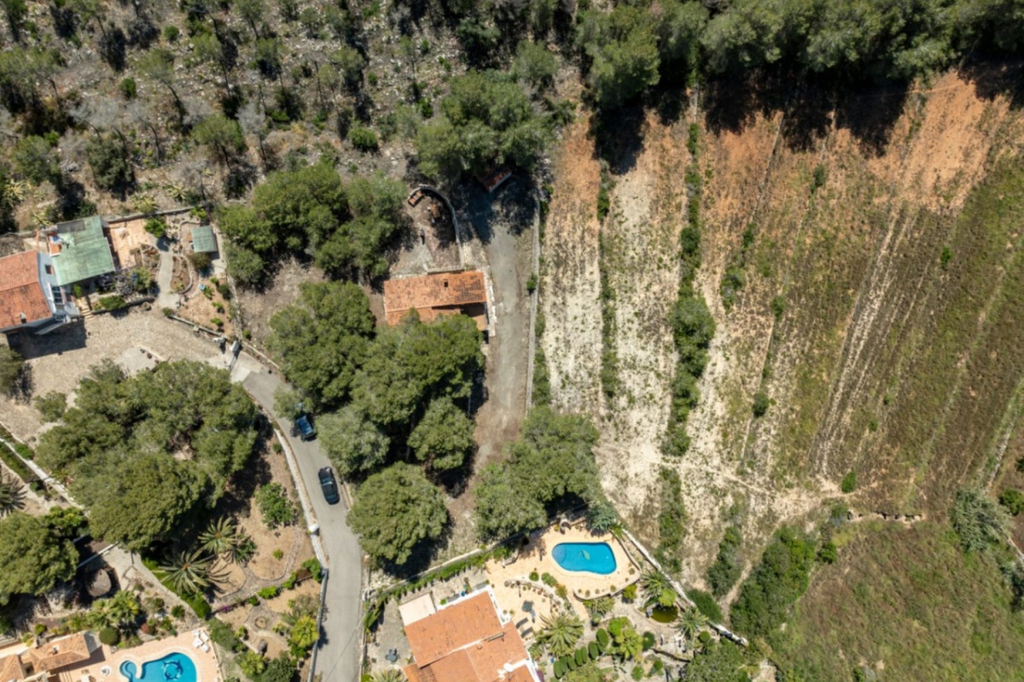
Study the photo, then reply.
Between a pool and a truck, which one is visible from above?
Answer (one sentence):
Of the two, only a pool appears.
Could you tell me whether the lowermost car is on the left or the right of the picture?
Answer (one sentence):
The lowermost car is on the left side of the image.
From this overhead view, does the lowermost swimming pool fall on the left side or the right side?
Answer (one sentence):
The lowermost swimming pool appears in the left half of the scene.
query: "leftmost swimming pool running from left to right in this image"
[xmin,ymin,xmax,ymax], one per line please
[118,650,199,682]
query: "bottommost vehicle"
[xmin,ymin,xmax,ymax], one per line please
[319,468,341,506]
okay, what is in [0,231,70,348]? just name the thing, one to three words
house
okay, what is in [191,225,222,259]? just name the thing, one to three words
shed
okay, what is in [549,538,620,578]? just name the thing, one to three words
swimming pool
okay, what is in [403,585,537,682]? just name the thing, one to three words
house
